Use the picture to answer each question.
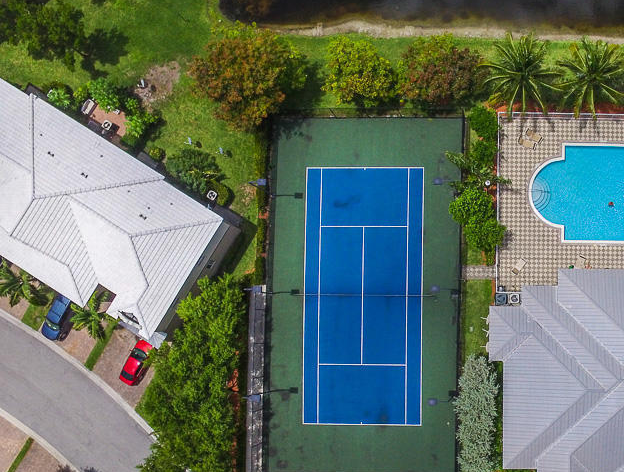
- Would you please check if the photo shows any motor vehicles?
Yes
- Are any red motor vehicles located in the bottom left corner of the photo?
Yes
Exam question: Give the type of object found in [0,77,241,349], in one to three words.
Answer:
house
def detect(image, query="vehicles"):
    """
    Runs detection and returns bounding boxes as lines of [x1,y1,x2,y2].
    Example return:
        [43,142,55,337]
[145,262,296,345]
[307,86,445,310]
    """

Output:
[38,291,81,343]
[116,337,158,389]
